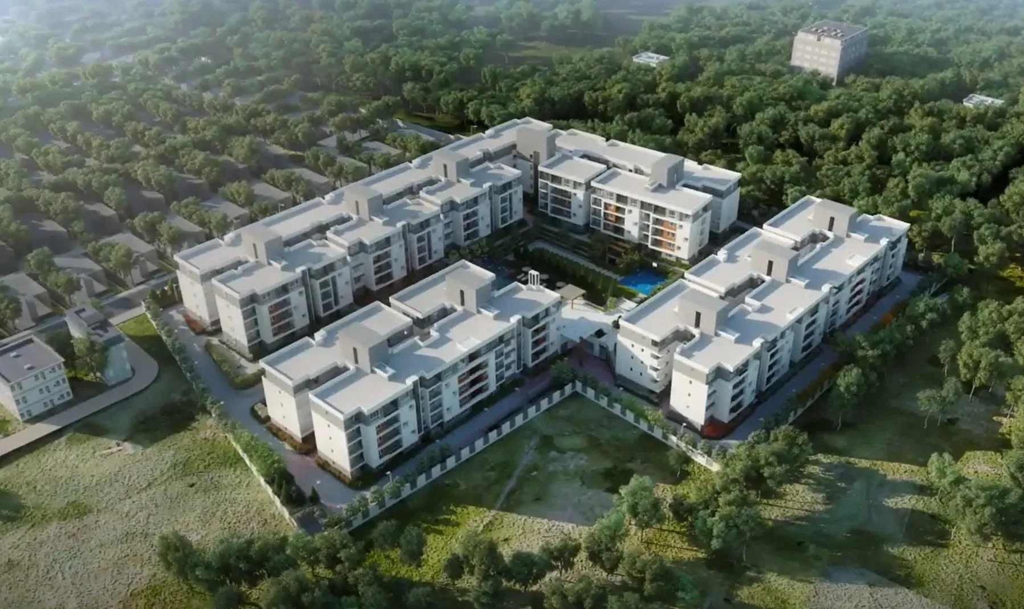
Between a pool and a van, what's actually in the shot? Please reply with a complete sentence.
The image shows a pool.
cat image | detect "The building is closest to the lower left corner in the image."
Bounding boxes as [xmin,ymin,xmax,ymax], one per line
[0,331,75,431]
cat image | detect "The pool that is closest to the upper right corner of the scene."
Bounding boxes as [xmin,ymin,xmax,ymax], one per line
[619,269,669,296]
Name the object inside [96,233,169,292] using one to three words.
house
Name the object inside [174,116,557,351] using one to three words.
building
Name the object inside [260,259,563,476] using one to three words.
building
